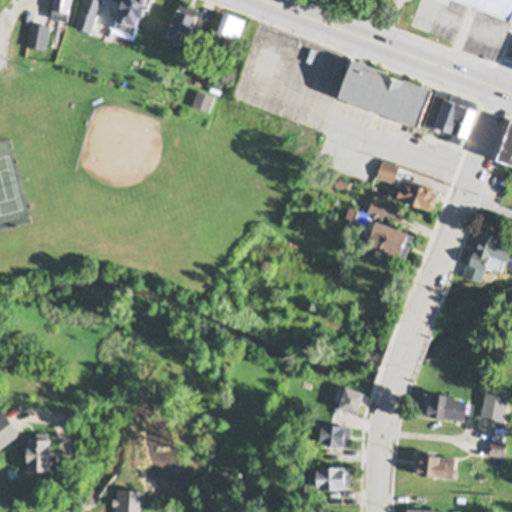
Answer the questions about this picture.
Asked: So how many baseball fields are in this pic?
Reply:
one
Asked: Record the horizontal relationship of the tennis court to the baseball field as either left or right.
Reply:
on the left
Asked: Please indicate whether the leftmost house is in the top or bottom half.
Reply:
bottom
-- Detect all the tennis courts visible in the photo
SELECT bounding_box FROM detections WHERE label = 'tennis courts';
[0,140,34,230]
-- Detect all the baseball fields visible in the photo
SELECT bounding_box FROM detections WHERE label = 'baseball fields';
[80,105,162,187]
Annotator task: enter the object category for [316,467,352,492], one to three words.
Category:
house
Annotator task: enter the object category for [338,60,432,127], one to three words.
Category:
building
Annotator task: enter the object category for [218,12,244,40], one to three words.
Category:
house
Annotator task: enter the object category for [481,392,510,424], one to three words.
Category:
building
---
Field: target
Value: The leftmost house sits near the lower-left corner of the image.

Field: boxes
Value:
[0,410,30,452]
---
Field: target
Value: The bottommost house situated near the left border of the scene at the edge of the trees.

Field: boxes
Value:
[25,435,52,474]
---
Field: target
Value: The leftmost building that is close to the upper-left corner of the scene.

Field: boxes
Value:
[26,24,50,52]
